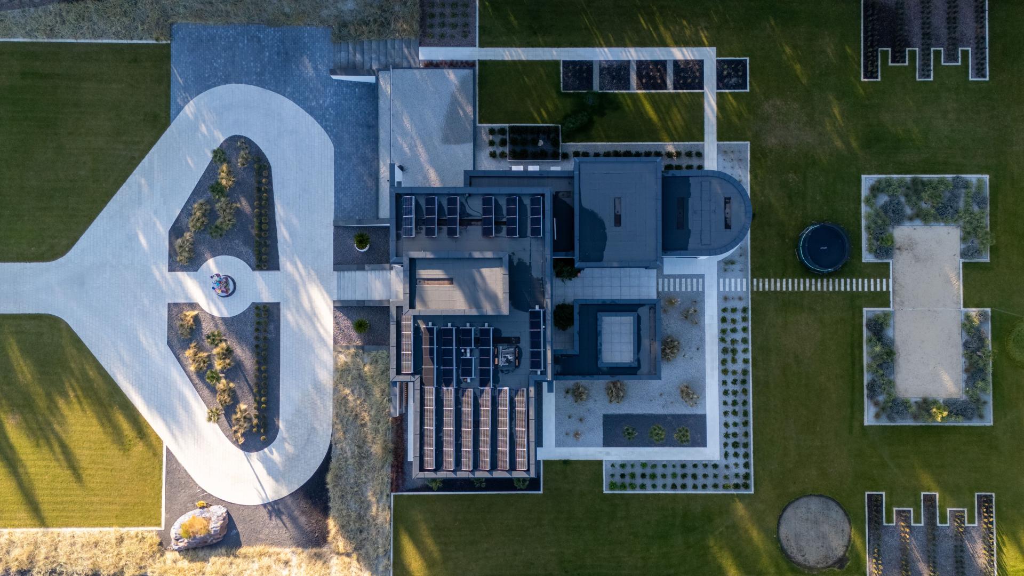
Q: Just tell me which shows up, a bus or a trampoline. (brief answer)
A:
trampoline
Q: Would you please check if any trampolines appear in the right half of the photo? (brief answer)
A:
Yes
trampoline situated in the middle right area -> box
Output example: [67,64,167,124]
[794,221,859,274]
